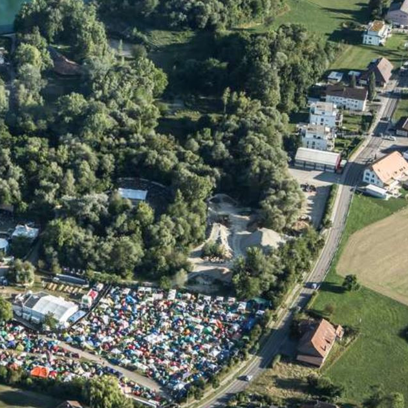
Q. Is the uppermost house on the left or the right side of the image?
right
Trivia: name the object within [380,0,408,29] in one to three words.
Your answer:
house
